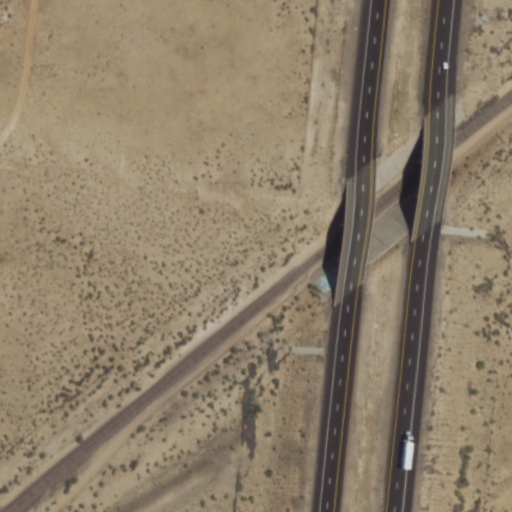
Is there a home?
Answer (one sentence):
No, there is no home in the image.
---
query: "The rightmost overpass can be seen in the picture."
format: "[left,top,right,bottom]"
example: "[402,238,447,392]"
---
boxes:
[410,94,456,242]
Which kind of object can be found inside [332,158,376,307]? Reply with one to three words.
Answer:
overpass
